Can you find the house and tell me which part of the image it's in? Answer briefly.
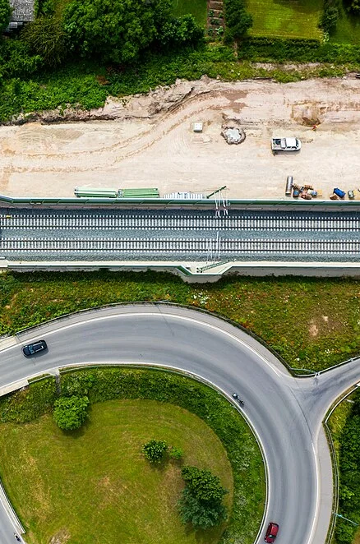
top left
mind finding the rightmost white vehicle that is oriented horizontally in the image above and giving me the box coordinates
[271,138,300,151]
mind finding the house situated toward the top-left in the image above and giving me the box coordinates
[8,0,35,29]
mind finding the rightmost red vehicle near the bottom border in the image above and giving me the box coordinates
[264,520,280,543]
